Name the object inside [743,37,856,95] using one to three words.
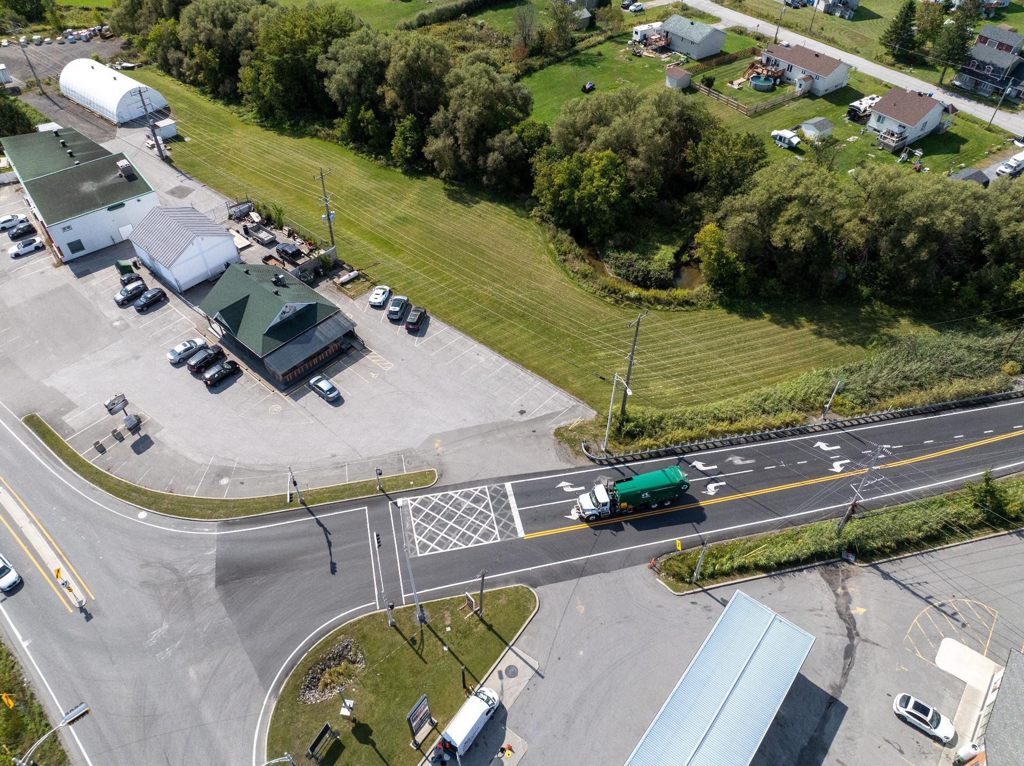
house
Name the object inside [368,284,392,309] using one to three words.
car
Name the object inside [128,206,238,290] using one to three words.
building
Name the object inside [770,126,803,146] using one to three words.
vehicle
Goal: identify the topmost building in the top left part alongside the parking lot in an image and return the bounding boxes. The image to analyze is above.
[57,53,169,125]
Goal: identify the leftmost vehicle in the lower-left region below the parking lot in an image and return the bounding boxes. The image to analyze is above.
[0,558,20,594]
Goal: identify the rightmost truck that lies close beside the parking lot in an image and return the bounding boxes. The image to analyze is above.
[572,464,698,522]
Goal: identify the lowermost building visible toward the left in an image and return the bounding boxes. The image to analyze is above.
[166,264,365,390]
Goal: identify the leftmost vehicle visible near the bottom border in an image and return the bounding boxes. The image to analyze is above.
[432,689,505,766]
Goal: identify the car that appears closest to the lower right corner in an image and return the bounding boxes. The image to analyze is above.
[889,693,955,744]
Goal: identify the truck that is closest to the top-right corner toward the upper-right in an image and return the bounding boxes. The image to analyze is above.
[996,147,1024,175]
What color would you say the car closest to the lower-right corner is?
white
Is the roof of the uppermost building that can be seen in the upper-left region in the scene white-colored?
Yes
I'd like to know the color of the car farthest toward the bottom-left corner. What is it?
white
